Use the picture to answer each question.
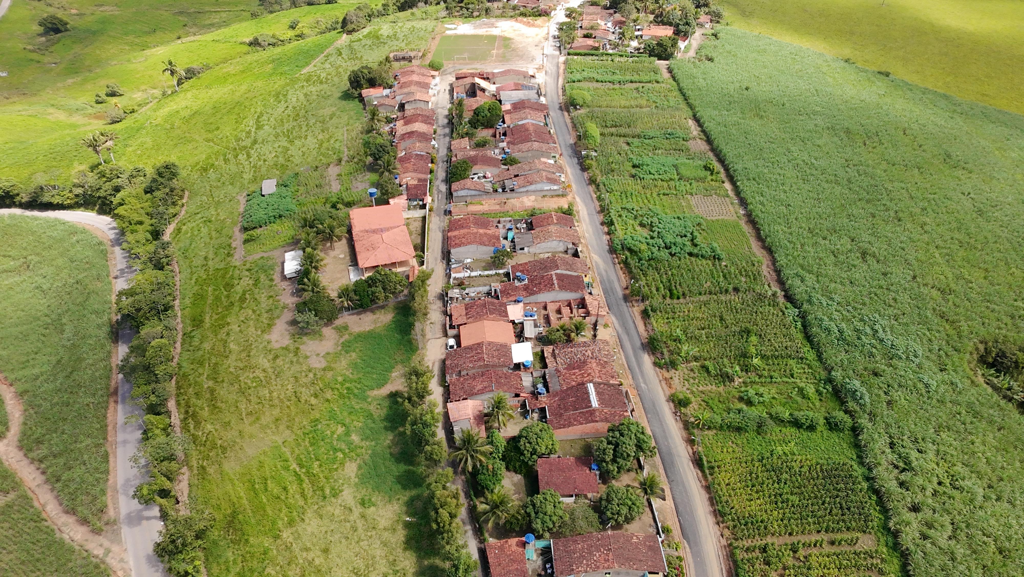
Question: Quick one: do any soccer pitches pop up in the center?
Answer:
No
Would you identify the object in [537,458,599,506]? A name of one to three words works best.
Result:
house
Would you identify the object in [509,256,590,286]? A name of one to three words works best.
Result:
house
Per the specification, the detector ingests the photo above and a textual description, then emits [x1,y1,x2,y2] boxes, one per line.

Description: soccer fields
[433,35,497,60]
